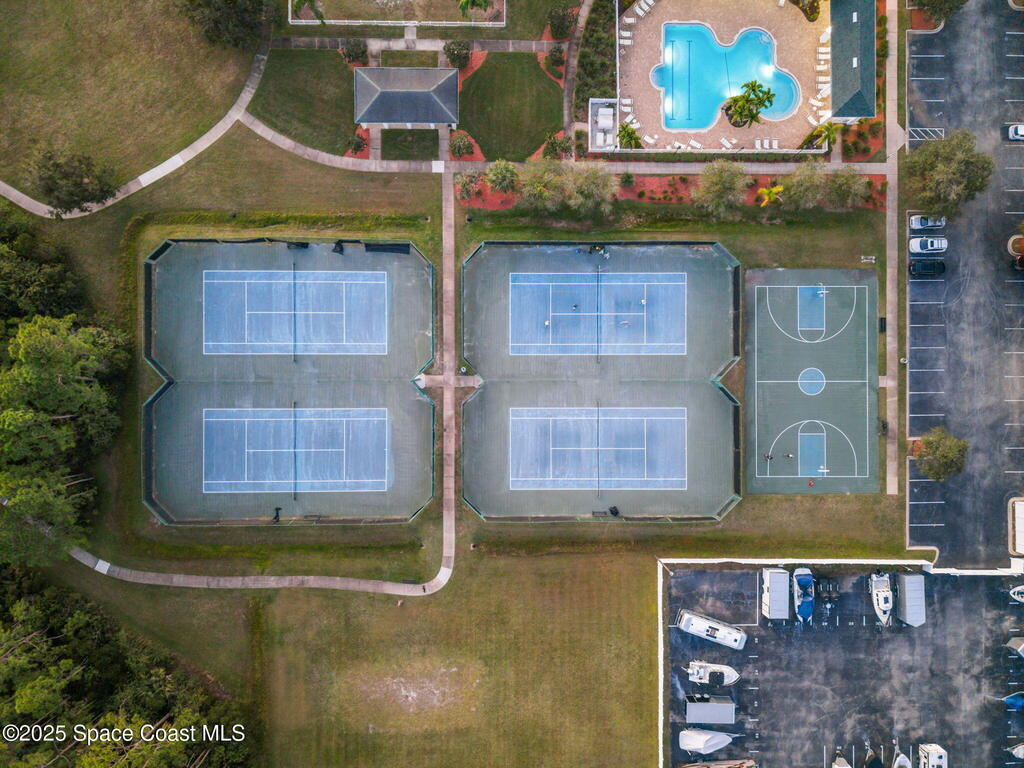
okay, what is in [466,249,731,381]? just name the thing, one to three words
tennis court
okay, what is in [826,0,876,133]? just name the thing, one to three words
building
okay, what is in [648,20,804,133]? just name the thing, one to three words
swimming pool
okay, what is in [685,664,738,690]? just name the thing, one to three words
boat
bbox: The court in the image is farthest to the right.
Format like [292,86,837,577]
[745,268,879,494]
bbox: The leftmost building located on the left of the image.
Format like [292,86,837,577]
[354,67,460,130]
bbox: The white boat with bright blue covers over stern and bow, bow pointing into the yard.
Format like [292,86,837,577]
[794,569,814,623]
